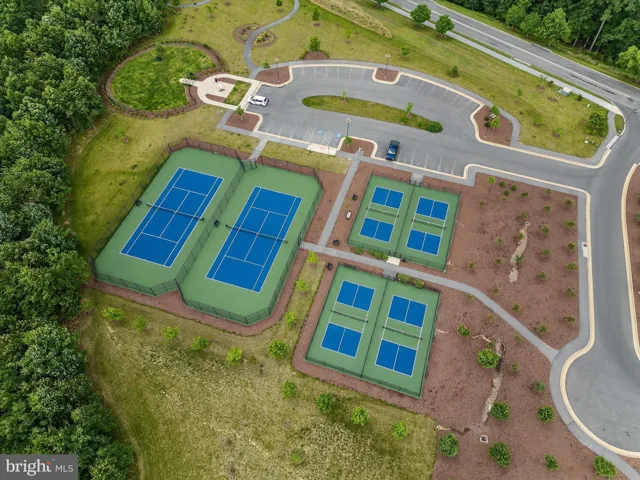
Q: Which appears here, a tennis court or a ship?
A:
tennis court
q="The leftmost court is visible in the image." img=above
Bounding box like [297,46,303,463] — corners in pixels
[94,148,245,298]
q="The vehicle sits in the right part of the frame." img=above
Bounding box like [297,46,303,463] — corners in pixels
[387,139,401,160]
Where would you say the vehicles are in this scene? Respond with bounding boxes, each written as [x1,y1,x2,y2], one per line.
[387,139,401,160]
[248,96,268,107]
